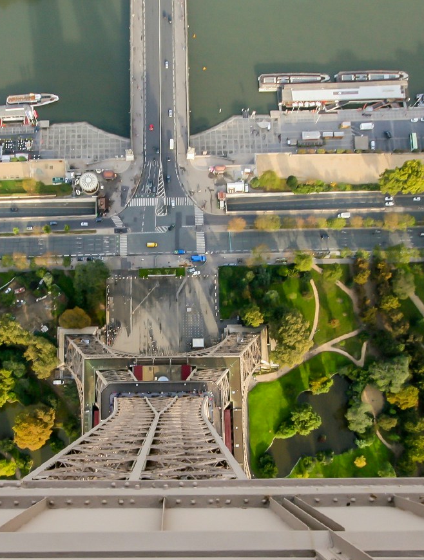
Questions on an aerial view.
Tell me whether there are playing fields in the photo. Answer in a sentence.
No, there is no playing field in the image.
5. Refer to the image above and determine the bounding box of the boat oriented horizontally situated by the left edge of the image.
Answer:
[6,94,59,107]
